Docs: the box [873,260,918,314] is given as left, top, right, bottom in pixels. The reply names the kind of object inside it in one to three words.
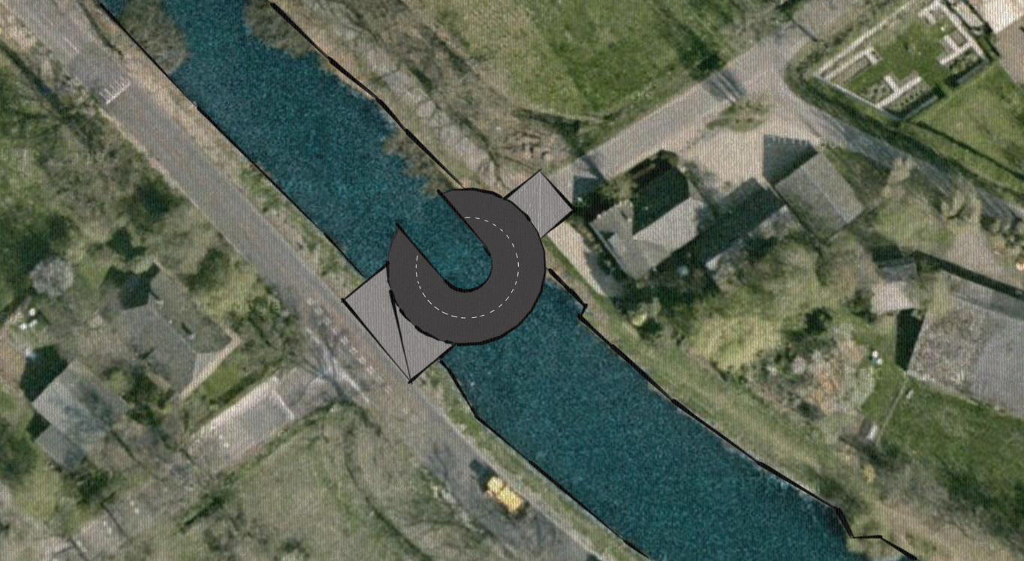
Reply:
shed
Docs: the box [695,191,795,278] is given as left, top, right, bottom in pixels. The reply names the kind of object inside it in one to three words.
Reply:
barn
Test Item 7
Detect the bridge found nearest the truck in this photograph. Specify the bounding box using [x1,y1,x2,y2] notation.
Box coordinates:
[386,186,546,347]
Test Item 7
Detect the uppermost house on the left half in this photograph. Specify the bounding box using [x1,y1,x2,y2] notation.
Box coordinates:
[115,271,230,394]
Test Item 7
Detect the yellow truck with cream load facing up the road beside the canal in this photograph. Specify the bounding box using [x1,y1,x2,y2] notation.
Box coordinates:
[481,475,525,519]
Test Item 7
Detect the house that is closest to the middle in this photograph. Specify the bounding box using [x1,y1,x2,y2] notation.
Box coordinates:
[591,175,701,279]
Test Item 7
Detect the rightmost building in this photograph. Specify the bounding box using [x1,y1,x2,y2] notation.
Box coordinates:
[909,299,1024,421]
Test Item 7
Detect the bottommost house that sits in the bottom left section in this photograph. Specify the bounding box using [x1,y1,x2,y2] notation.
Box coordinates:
[31,360,125,469]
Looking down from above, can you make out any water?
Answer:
Yes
